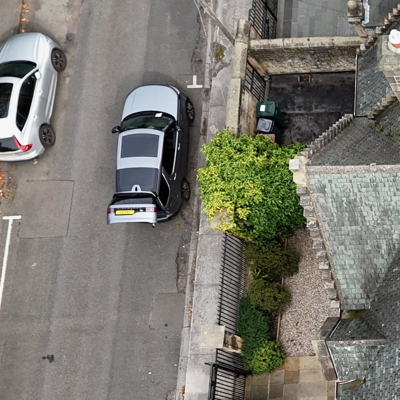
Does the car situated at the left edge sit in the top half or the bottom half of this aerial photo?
top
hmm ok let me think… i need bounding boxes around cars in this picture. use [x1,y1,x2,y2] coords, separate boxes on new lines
[99,85,198,233]
[0,33,66,164]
